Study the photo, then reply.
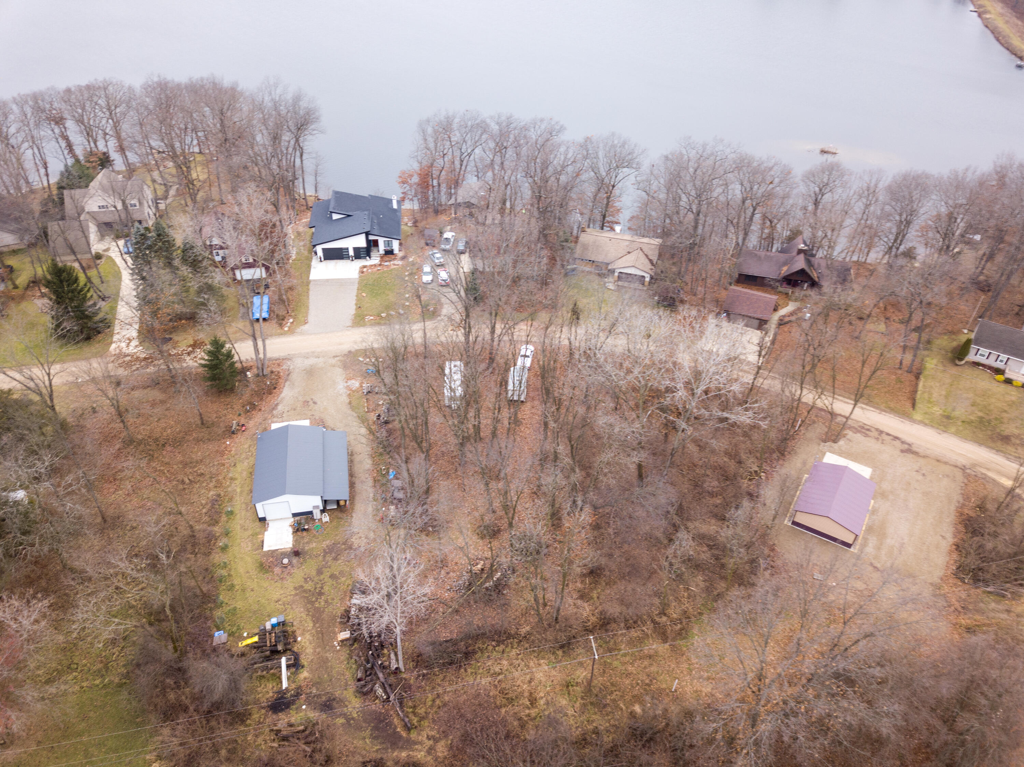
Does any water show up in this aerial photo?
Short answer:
Yes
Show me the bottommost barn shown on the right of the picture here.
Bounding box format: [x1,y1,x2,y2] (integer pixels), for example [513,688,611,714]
[784,457,878,553]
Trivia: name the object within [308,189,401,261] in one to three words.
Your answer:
house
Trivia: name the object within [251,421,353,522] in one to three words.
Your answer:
barn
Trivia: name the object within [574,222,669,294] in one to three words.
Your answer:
house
